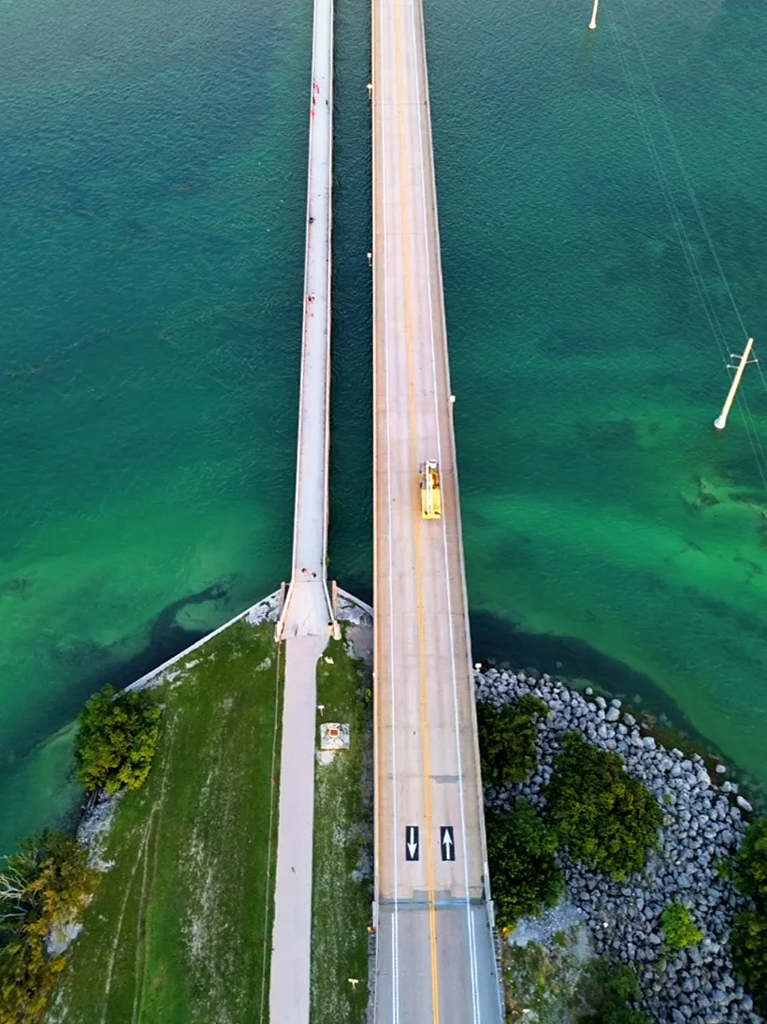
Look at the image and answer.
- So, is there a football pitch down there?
No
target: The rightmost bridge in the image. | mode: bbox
[371,0,497,932]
